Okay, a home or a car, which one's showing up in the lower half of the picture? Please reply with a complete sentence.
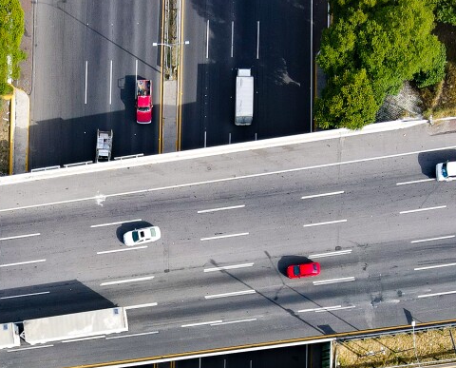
The one visible in the lower half of the picture is a car.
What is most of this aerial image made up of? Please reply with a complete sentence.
What you mostly see from above here is paved ground.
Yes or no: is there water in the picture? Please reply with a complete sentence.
No, no water is visible.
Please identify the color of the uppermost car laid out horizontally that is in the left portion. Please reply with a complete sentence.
The color of the uppermost car laid out horizontally that is in the left portion is white.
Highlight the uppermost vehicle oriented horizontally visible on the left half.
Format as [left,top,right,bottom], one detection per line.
[124,227,162,247]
